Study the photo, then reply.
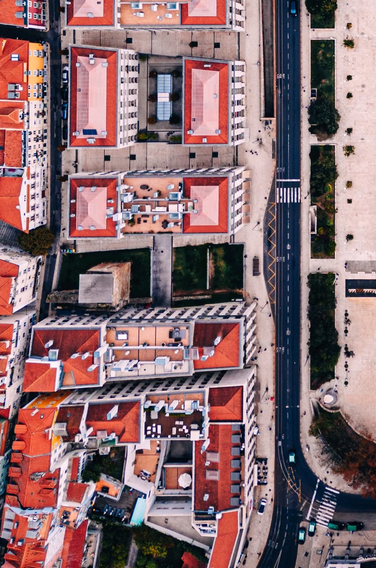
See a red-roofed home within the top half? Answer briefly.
Yes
